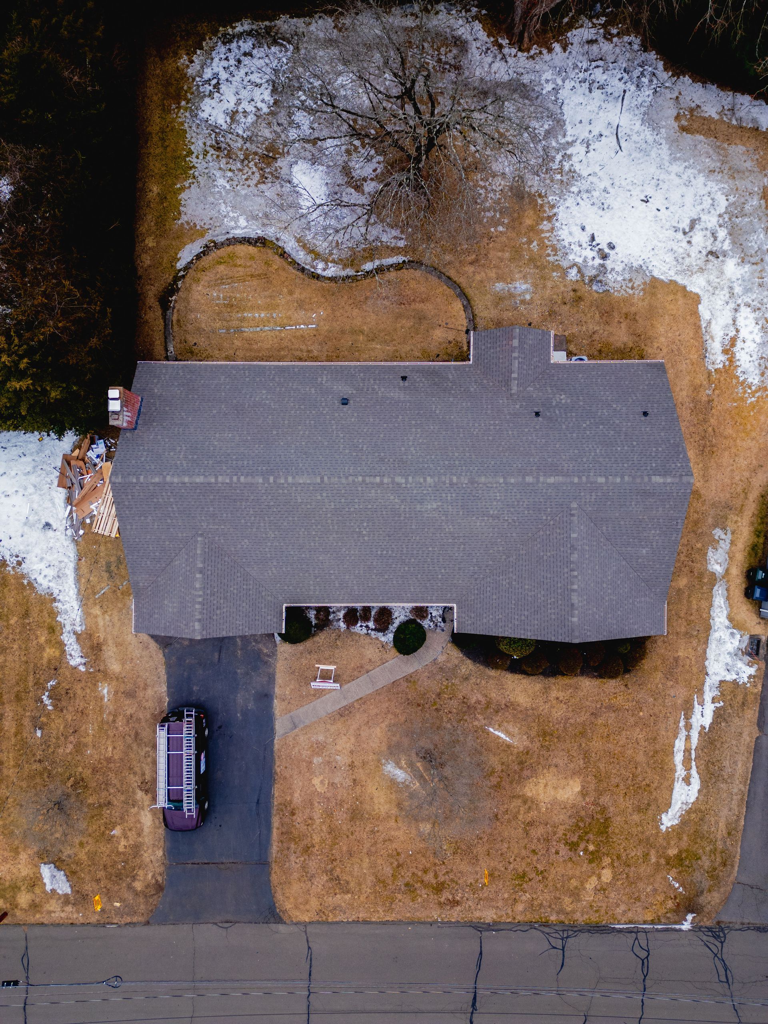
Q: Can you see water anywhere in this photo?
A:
No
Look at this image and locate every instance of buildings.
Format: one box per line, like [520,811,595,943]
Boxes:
[107,325,695,643]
